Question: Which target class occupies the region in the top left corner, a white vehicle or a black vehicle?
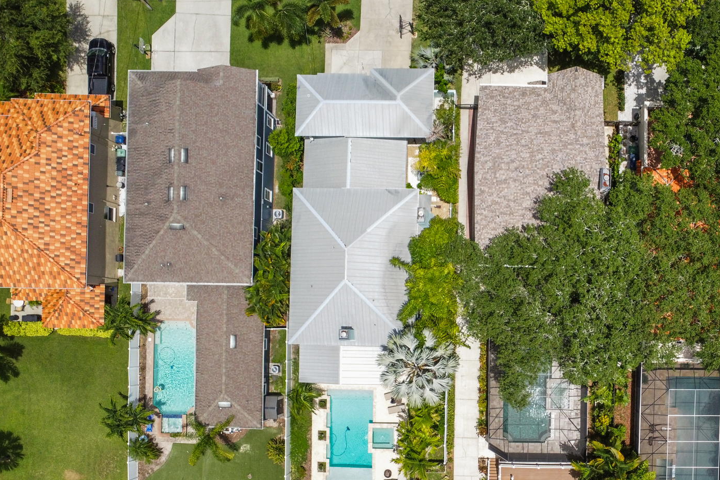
black vehicle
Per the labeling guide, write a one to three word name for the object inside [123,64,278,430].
house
